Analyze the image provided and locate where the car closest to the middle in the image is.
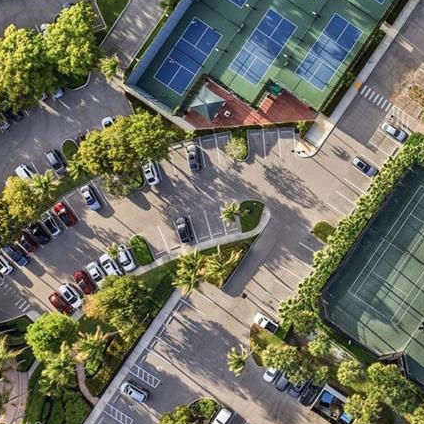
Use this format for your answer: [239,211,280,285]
[176,217,192,243]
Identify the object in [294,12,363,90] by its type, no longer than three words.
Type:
sports court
